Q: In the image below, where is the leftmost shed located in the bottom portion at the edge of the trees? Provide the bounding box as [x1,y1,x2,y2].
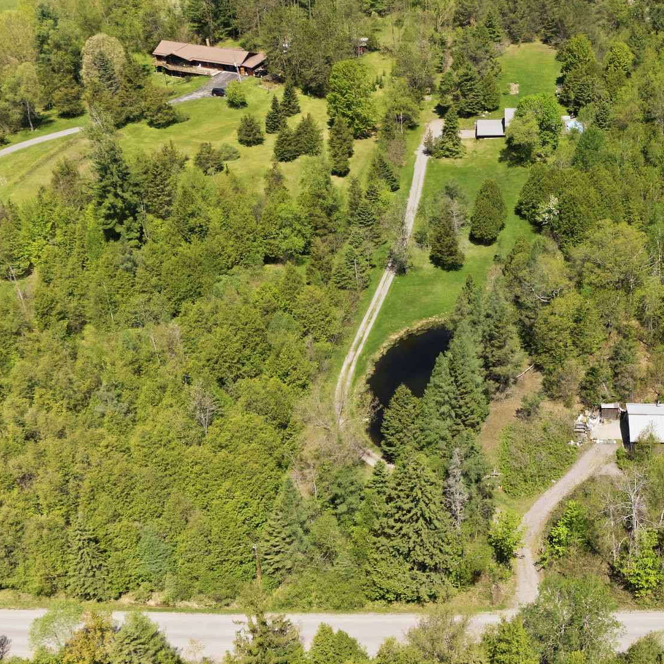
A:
[600,400,622,419]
